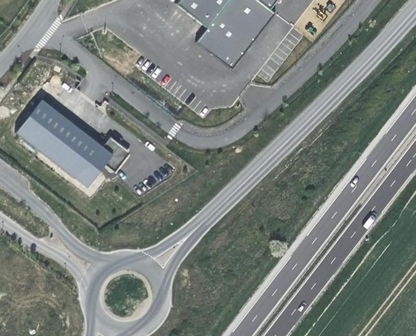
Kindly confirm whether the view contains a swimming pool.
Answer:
No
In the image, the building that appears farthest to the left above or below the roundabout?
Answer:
above it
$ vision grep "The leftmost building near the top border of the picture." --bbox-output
[176,0,279,68]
